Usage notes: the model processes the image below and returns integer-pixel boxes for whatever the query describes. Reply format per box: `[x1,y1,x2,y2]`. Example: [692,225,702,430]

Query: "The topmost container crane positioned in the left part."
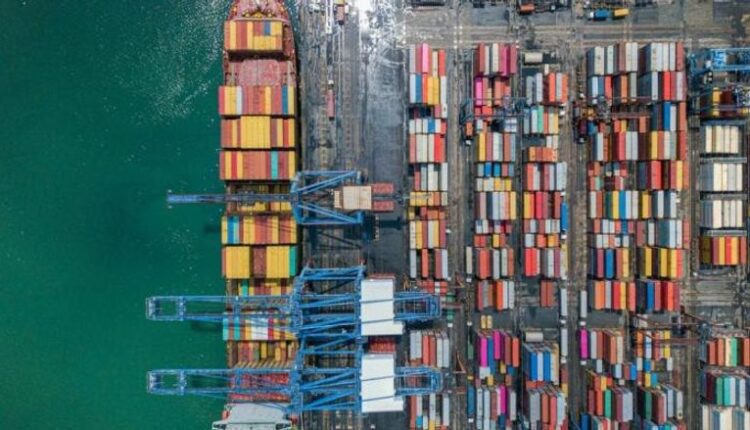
[168,170,406,231]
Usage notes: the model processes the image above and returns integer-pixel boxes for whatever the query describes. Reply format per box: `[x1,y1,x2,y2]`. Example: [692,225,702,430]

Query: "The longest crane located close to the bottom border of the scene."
[149,319,440,419]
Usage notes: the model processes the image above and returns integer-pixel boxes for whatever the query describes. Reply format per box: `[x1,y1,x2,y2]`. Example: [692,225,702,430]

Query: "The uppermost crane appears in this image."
[686,44,750,86]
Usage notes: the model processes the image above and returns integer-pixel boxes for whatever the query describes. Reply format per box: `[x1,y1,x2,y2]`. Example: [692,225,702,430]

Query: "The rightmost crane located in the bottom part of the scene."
[691,308,750,344]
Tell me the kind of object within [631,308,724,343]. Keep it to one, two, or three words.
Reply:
container crane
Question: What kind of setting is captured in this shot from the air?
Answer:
port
